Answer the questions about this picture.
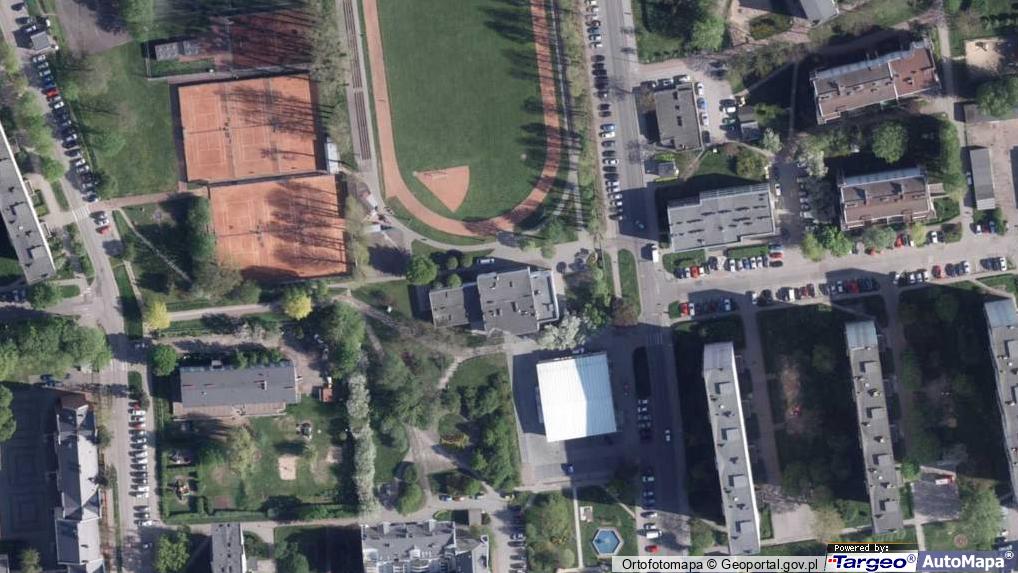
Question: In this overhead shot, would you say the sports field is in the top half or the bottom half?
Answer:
top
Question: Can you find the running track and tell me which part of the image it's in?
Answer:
top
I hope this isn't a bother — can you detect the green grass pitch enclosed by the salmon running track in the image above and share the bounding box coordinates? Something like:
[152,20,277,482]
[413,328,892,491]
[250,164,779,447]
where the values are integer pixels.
[379,0,546,220]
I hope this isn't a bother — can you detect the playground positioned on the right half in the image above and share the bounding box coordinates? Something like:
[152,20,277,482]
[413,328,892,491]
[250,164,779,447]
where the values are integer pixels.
[965,37,1011,75]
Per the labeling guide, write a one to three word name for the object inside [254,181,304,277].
tennis court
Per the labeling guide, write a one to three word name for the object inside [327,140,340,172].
shed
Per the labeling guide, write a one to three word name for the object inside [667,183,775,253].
building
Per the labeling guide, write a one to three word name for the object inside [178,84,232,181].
tennis court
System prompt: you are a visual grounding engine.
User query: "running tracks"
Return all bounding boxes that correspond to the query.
[362,0,561,237]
